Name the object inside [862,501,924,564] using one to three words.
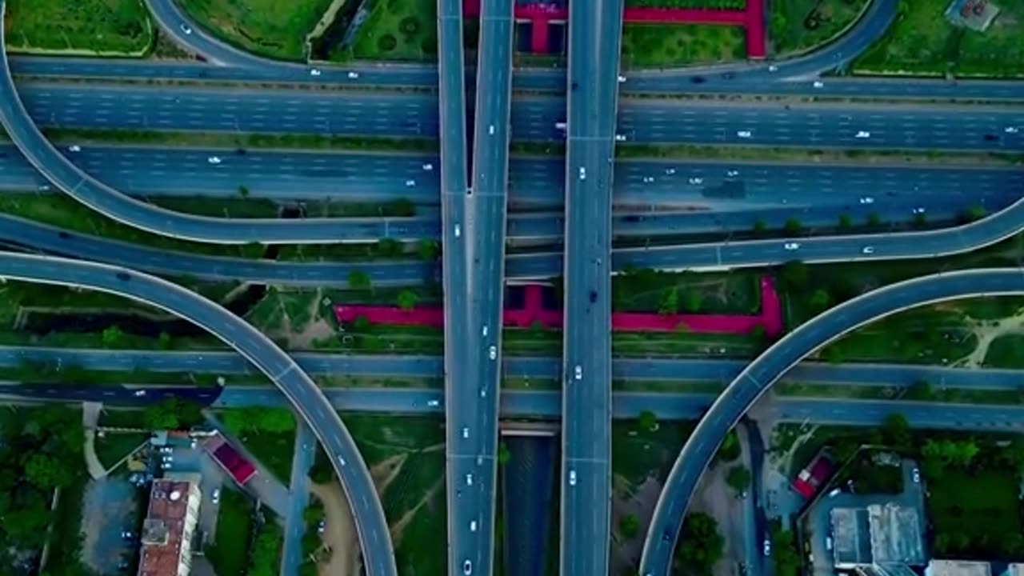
building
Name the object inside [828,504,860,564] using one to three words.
building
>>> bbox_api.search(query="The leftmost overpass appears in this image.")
[437,0,514,576]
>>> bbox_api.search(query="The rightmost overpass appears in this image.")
[561,0,623,576]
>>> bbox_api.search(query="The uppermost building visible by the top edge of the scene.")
[943,0,1000,33]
